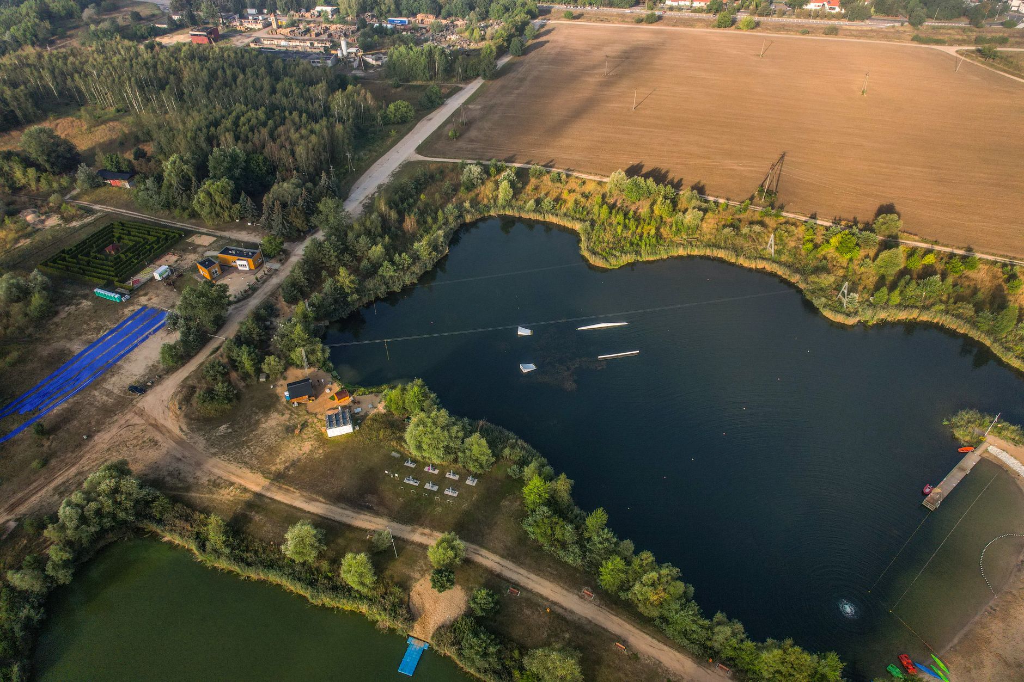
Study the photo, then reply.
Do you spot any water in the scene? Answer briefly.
Yes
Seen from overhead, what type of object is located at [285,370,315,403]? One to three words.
shed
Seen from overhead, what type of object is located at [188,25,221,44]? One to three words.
shed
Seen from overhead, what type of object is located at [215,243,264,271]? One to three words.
building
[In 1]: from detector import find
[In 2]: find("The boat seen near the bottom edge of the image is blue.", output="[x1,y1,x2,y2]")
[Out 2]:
[915,662,941,679]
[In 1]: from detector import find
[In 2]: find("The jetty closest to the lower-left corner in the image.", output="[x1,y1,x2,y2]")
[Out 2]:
[395,638,428,682]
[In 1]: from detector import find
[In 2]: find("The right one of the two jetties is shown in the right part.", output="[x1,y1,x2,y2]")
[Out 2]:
[918,440,986,515]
